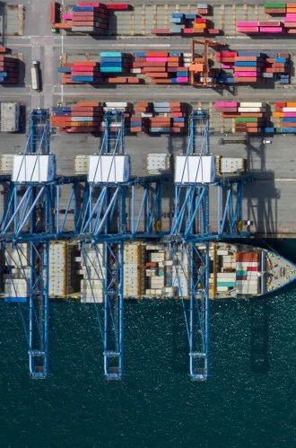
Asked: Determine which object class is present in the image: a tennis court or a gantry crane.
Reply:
gantry crane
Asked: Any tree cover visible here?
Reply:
No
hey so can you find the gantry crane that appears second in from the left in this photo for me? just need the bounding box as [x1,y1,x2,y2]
[73,108,186,378]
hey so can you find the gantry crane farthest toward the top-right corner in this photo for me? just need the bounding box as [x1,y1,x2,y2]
[187,40,228,89]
